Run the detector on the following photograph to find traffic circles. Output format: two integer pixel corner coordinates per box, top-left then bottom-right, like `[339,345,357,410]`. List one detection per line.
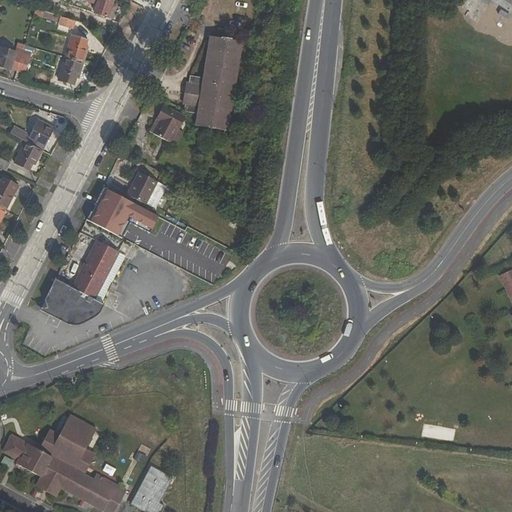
[233,247,365,379]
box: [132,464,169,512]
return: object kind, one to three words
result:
barn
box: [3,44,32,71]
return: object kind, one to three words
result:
house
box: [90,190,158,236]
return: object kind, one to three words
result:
building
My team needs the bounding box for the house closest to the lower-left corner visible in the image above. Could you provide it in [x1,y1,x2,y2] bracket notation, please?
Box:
[0,418,126,512]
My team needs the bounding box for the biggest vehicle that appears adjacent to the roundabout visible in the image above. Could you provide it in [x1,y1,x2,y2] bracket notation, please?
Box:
[317,200,333,246]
